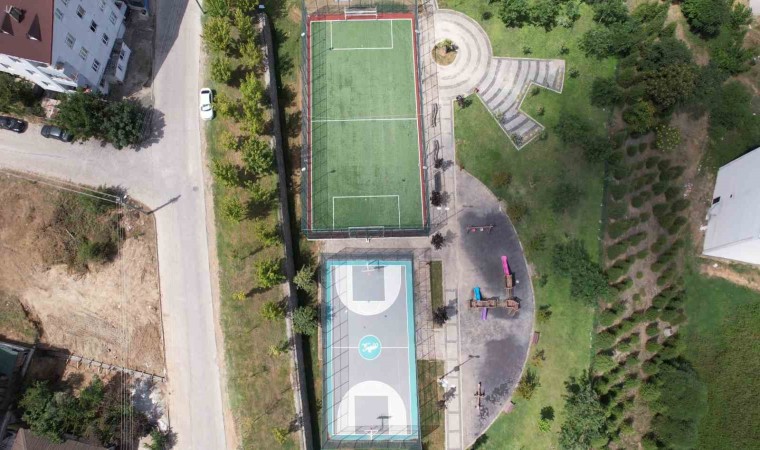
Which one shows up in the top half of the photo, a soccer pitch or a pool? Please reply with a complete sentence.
Looking in the top half of the photo, you will find a soccer pitch.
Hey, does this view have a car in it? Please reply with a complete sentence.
Yes, there's a car here.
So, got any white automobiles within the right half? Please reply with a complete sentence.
No, the scene shows no white automobile within the right half.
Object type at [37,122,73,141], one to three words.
car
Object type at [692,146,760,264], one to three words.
building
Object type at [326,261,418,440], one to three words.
basketball court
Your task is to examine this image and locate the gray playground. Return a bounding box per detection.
[457,166,532,448]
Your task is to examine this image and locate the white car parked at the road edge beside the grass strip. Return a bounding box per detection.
[197,86,213,119]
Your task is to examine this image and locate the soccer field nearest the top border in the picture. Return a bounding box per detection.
[307,13,429,238]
